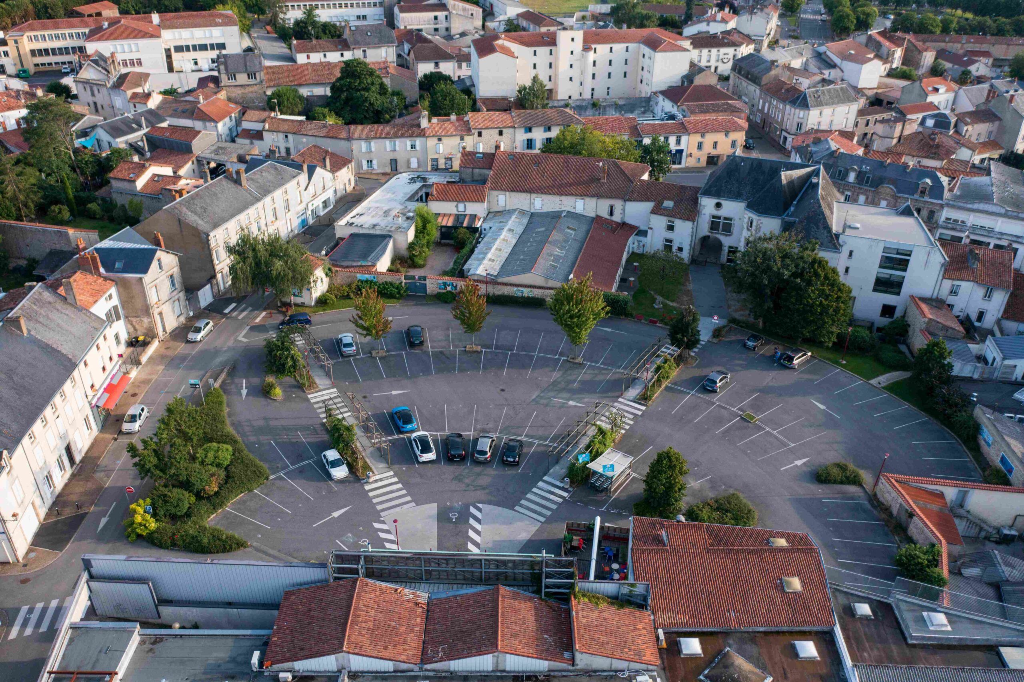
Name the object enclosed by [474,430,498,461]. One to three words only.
car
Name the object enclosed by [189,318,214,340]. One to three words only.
car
